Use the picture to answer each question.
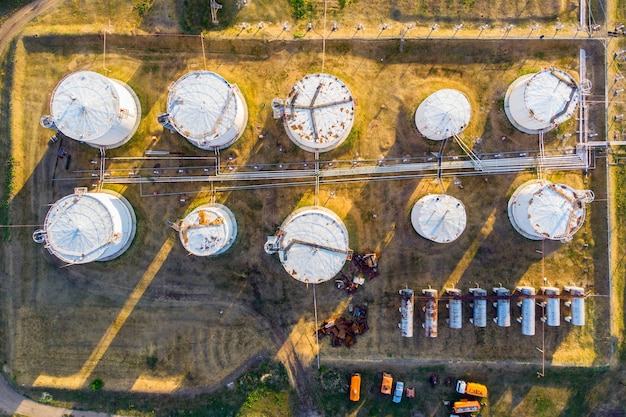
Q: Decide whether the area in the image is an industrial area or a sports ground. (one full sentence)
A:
It's an industrial area.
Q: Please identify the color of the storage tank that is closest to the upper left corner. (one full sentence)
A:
The storage tank that is closest to the upper left corner looks white in the image.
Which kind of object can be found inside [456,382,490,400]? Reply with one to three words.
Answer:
vehicle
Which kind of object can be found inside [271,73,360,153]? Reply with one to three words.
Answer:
storage tank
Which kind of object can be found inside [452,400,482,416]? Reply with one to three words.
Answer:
vehicle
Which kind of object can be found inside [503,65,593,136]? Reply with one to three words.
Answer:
storage tank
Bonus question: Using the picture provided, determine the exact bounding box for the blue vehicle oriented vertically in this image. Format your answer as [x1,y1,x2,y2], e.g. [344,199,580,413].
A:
[392,382,405,405]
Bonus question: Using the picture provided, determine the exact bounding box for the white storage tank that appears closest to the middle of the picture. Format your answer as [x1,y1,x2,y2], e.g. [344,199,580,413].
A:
[265,207,355,289]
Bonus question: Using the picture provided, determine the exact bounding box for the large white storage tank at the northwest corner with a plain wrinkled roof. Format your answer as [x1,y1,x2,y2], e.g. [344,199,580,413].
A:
[39,70,141,152]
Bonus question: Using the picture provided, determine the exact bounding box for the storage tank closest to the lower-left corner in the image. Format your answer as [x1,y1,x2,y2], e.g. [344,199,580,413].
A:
[29,188,134,270]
